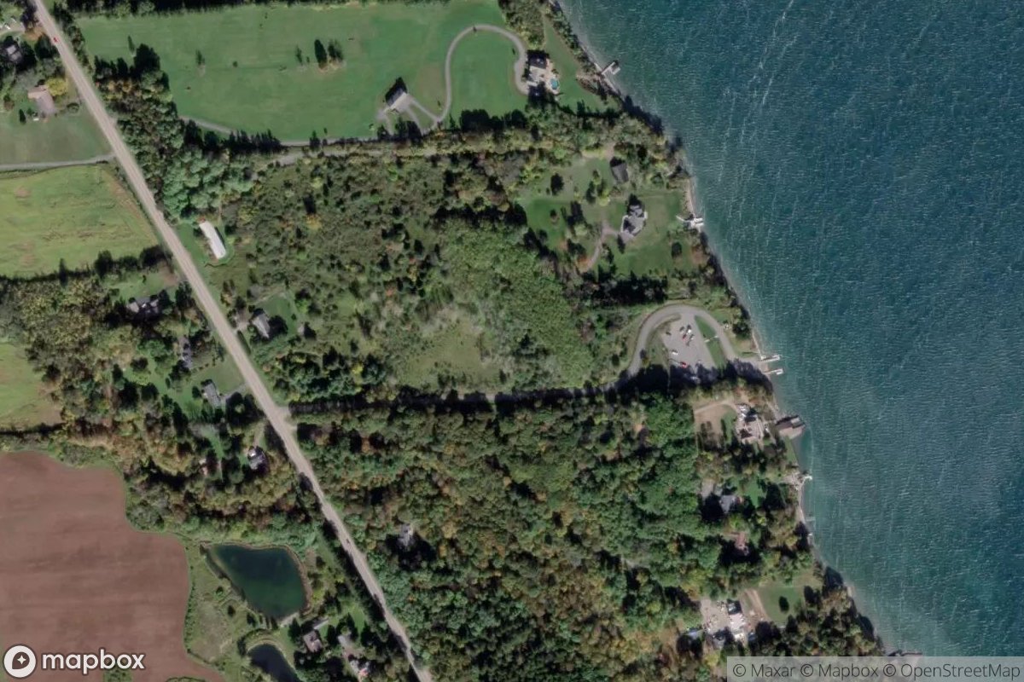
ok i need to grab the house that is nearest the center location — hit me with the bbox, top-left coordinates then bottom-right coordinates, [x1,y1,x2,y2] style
[622,206,648,242]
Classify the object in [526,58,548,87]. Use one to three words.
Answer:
house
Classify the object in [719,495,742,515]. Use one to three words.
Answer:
house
